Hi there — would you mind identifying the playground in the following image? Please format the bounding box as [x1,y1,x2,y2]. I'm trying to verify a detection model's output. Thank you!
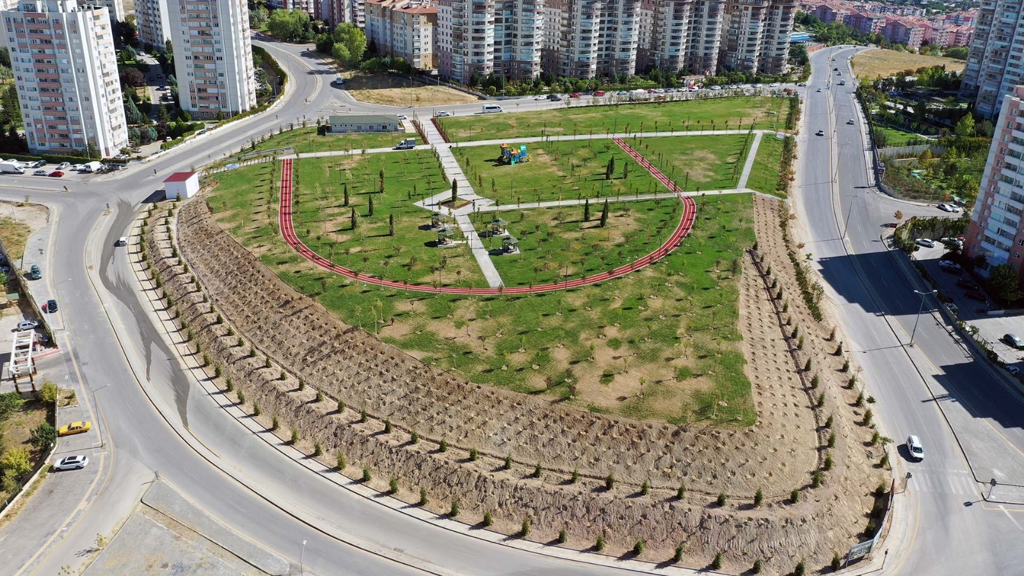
[499,142,533,166]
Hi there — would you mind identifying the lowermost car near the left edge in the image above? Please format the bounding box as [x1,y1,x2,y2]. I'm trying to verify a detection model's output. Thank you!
[51,451,88,471]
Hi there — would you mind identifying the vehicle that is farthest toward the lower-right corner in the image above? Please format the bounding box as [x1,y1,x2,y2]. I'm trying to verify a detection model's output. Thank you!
[908,434,926,460]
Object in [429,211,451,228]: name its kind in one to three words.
gazebo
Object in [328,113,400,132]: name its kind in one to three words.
building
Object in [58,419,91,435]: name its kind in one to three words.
car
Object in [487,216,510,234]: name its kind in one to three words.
gazebo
